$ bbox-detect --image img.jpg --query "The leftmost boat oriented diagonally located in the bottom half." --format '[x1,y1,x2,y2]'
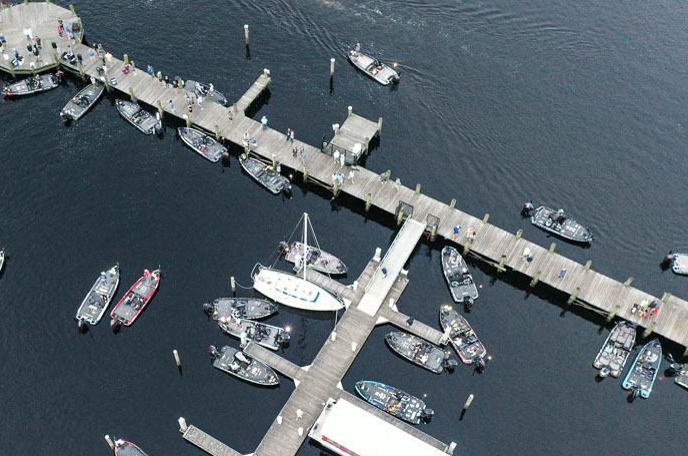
[76,264,121,329]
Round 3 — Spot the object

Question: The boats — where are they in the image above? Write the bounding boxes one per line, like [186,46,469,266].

[179,77,228,106]
[176,126,229,164]
[211,344,280,388]
[441,303,490,365]
[110,269,161,328]
[62,83,106,121]
[666,254,688,276]
[1,75,61,98]
[348,55,400,89]
[671,363,688,388]
[238,155,292,196]
[112,442,144,456]
[218,319,292,349]
[624,336,661,399]
[202,299,277,320]
[529,204,593,244]
[442,243,481,306]
[252,213,345,312]
[76,264,121,329]
[385,335,454,374]
[595,321,632,377]
[354,382,436,426]
[113,99,160,136]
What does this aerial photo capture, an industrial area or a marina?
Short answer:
marina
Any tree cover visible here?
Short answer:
No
